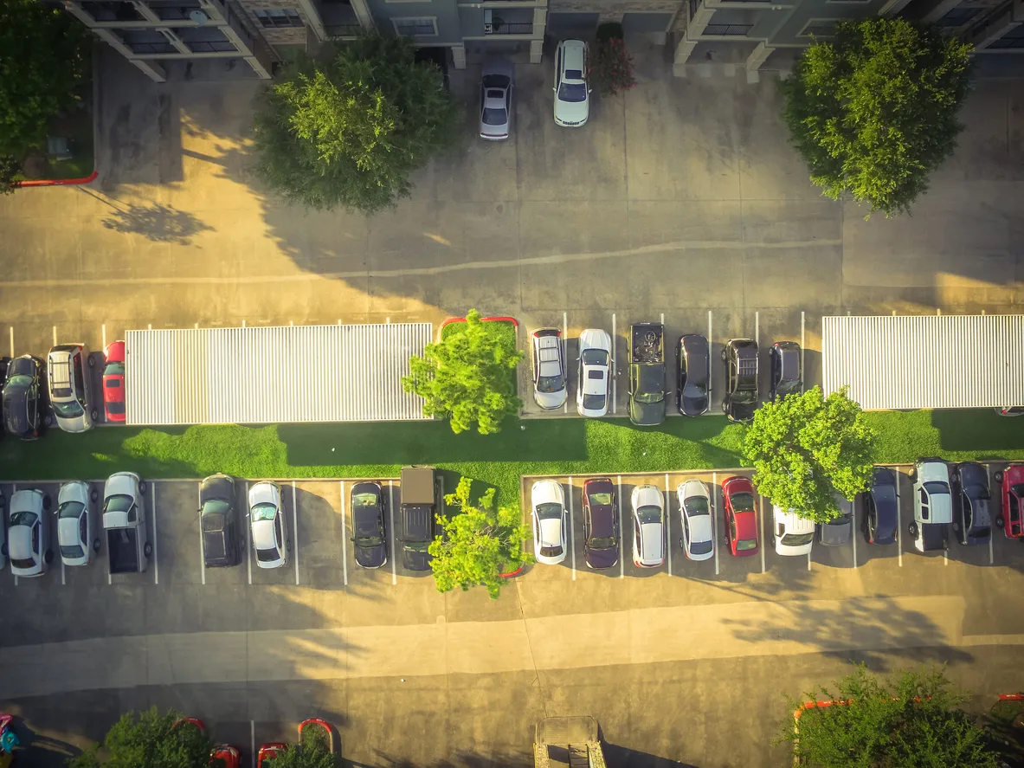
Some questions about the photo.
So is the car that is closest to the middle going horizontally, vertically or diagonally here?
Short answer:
vertically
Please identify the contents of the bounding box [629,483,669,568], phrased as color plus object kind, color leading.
white car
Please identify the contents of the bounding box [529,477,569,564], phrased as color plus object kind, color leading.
white car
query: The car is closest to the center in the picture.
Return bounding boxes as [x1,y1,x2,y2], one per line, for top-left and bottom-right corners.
[531,328,570,410]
